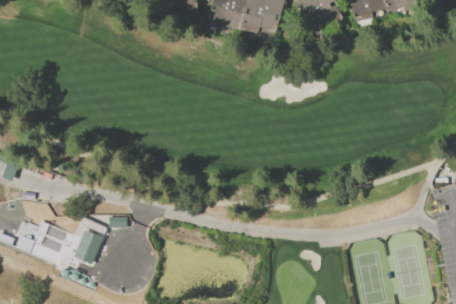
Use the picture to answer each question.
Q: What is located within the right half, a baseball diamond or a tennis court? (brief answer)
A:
tennis court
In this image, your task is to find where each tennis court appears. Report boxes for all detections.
[388,232,434,304]
[350,240,396,304]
